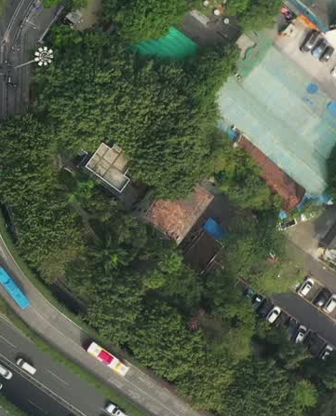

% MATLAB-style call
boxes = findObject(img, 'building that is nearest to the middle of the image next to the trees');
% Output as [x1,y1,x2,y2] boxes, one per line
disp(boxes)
[150,184,212,245]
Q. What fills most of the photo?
trees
